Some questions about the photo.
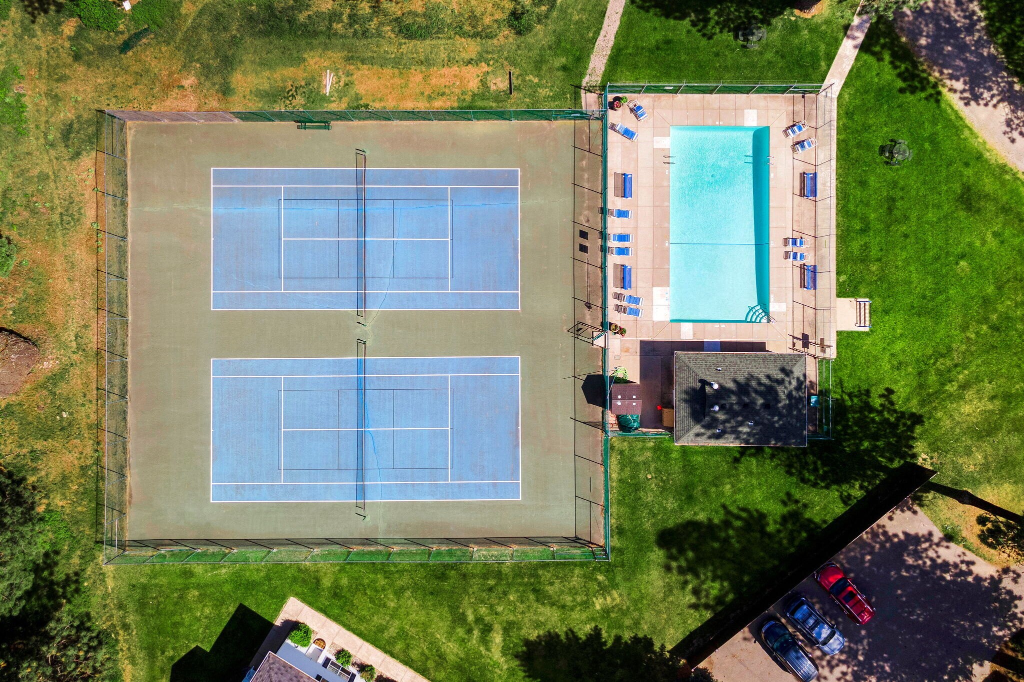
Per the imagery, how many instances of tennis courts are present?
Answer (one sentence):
The photo contains 2 tennis courts.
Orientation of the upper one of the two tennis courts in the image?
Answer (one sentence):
From this overhead view, the upper one of the two tennis courts appears to run from side to side.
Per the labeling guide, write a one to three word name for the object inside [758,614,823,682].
car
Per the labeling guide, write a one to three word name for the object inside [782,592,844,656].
car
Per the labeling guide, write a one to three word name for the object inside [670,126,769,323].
swimming pool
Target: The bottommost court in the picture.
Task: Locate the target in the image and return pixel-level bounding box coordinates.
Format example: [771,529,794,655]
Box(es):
[211,344,521,535]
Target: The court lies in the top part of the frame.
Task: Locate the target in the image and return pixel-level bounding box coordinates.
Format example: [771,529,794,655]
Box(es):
[128,168,570,339]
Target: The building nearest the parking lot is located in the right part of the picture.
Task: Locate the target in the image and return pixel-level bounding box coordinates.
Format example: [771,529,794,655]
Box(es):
[673,351,808,447]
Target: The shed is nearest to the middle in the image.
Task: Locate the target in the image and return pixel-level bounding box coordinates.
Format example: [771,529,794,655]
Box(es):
[610,383,645,414]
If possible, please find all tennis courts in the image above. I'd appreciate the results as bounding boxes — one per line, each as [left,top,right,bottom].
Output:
[211,344,521,535]
[128,168,570,339]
